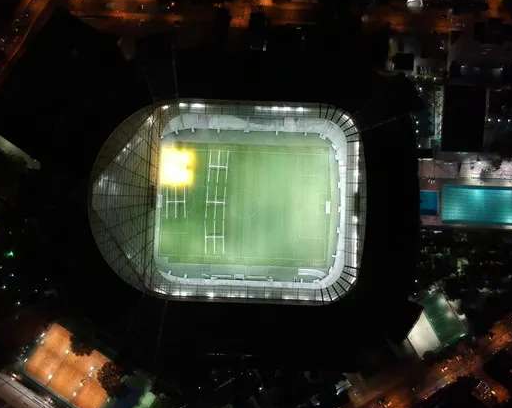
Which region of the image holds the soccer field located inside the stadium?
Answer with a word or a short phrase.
center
